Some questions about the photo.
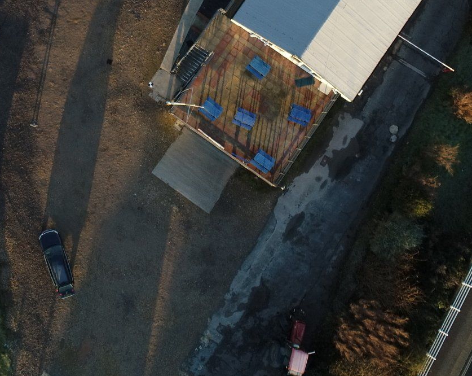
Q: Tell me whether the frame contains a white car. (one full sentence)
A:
No, I can't see a single white car in this photo.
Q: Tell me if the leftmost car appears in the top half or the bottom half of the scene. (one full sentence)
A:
You can find the leftmost car in the bottom half.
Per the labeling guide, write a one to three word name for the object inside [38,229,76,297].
car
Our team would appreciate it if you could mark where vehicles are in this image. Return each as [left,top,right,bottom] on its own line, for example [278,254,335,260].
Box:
[273,299,314,375]
[38,229,76,297]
